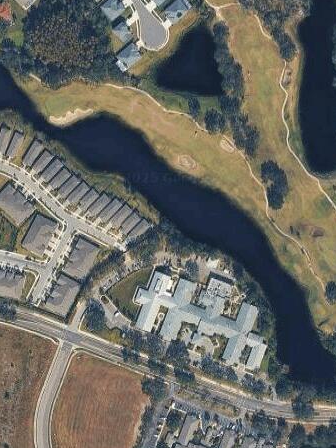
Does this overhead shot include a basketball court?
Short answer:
No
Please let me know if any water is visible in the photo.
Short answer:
Yes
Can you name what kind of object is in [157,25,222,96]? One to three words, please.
pond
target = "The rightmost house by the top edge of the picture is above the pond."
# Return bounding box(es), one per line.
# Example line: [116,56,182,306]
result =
[164,0,190,23]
